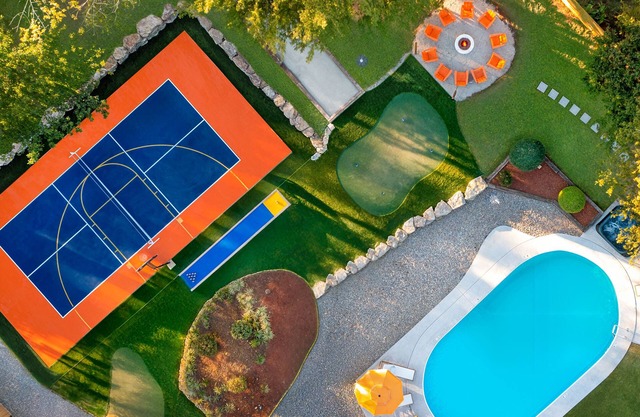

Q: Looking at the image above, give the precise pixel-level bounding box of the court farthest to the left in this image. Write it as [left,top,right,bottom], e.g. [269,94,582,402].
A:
[0,31,291,366]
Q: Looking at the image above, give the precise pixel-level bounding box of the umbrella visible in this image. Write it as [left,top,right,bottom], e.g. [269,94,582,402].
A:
[356,367,403,415]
